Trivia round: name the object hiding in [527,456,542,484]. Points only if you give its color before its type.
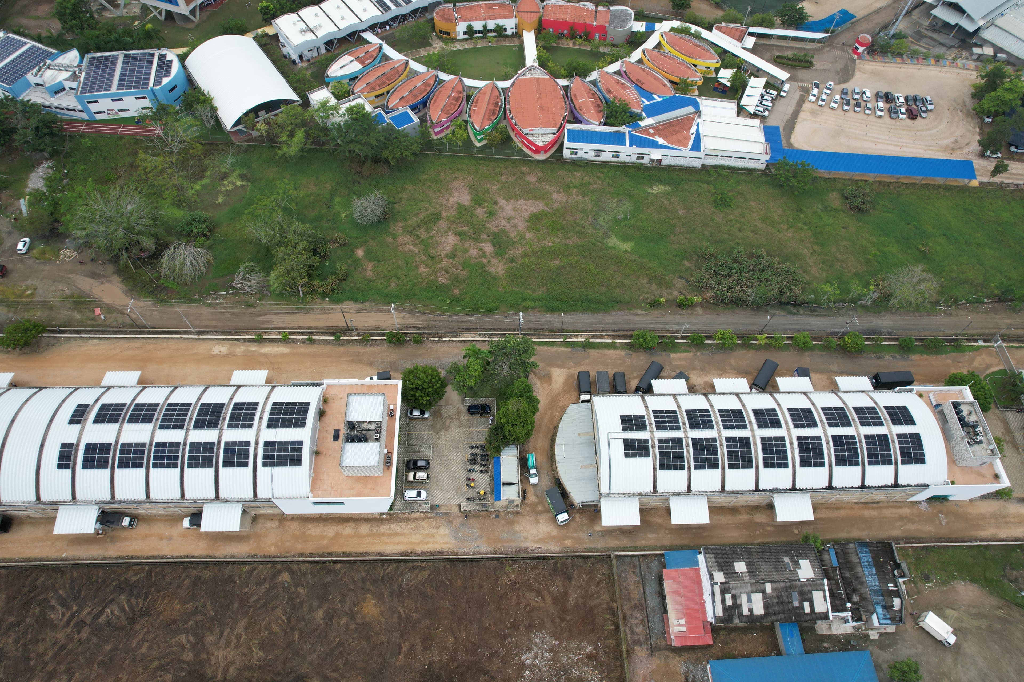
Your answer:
white vehicle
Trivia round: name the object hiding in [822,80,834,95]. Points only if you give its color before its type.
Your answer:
white vehicle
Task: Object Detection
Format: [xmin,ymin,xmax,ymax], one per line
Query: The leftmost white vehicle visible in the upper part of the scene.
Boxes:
[16,239,31,255]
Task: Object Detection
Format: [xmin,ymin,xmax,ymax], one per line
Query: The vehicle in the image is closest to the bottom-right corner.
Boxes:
[917,609,963,650]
